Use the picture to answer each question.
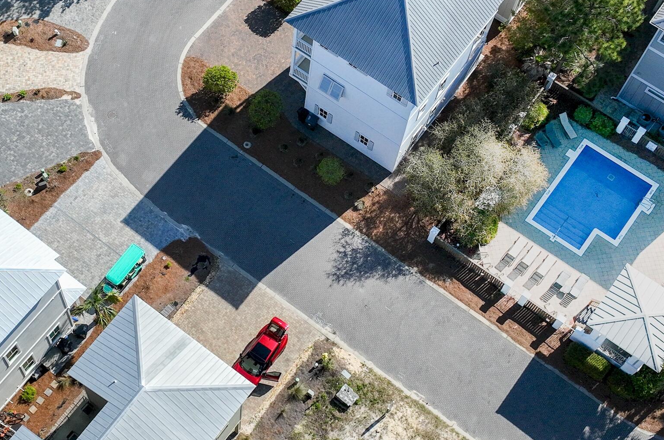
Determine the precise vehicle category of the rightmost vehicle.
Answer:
automobile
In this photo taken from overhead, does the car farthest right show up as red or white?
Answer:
red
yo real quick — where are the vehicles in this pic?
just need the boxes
[102,243,147,300]
[232,313,290,387]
